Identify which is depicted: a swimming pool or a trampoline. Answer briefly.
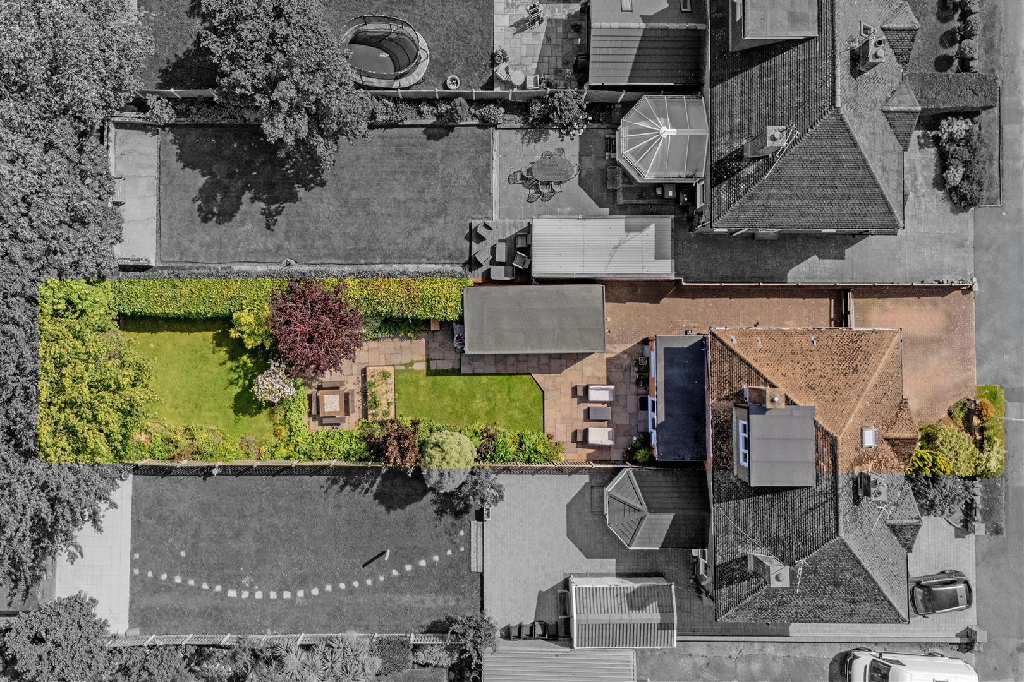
trampoline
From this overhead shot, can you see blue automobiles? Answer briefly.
No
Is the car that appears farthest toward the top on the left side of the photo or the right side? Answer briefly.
right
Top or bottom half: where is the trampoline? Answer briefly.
top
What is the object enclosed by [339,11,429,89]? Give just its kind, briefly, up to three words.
trampoline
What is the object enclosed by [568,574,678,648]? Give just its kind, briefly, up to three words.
building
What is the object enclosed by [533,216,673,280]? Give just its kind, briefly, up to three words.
building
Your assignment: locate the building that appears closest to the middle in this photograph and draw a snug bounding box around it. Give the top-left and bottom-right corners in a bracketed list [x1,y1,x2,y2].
[464,283,610,354]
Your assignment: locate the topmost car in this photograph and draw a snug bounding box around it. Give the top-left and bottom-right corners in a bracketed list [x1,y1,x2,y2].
[908,567,975,621]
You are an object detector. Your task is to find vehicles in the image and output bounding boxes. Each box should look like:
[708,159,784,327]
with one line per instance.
[843,643,970,682]
[908,567,975,621]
